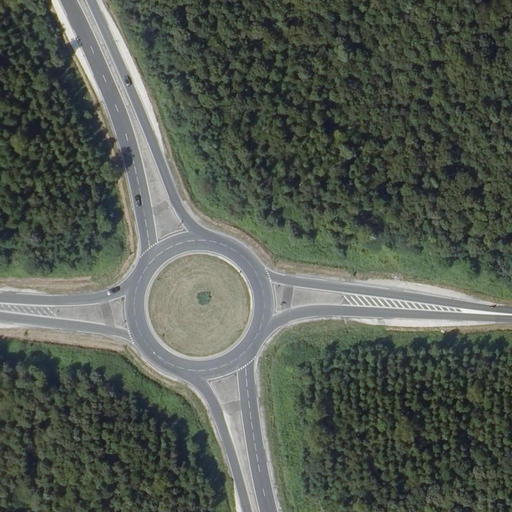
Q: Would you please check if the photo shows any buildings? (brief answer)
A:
No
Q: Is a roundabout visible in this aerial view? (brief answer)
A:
Yes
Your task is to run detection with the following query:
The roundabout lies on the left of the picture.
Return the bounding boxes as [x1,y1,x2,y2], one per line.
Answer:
[123,229,276,382]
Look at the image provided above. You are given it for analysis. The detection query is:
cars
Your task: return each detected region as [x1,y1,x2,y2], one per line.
[124,75,132,86]
[136,195,142,206]
[108,287,120,294]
